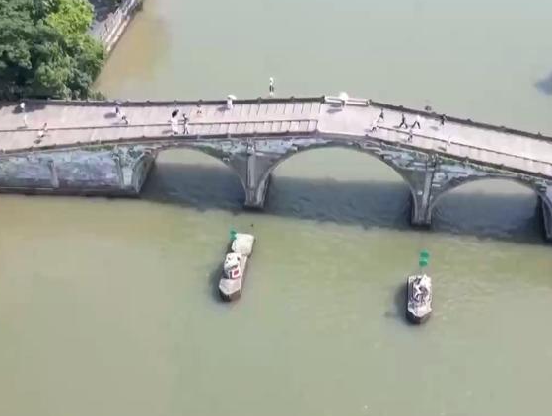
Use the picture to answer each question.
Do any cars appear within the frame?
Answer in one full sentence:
No, the photo shows no car.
